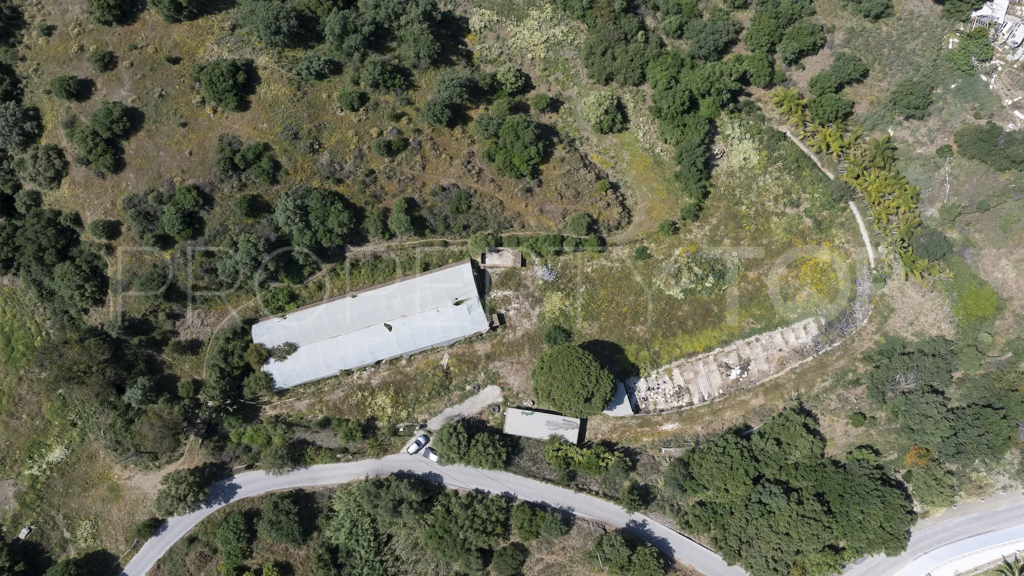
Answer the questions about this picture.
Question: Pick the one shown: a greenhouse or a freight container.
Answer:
greenhouse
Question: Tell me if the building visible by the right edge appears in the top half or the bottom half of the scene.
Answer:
top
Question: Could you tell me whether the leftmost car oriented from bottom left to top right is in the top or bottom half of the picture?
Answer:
bottom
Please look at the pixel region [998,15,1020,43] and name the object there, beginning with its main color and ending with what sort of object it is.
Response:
white vehicle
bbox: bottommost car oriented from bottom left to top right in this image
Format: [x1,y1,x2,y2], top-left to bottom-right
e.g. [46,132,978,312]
[406,433,431,457]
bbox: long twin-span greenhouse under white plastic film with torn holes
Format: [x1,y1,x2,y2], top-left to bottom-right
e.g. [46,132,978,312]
[252,261,490,389]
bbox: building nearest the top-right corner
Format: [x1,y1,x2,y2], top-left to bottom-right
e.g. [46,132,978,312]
[966,0,1009,31]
